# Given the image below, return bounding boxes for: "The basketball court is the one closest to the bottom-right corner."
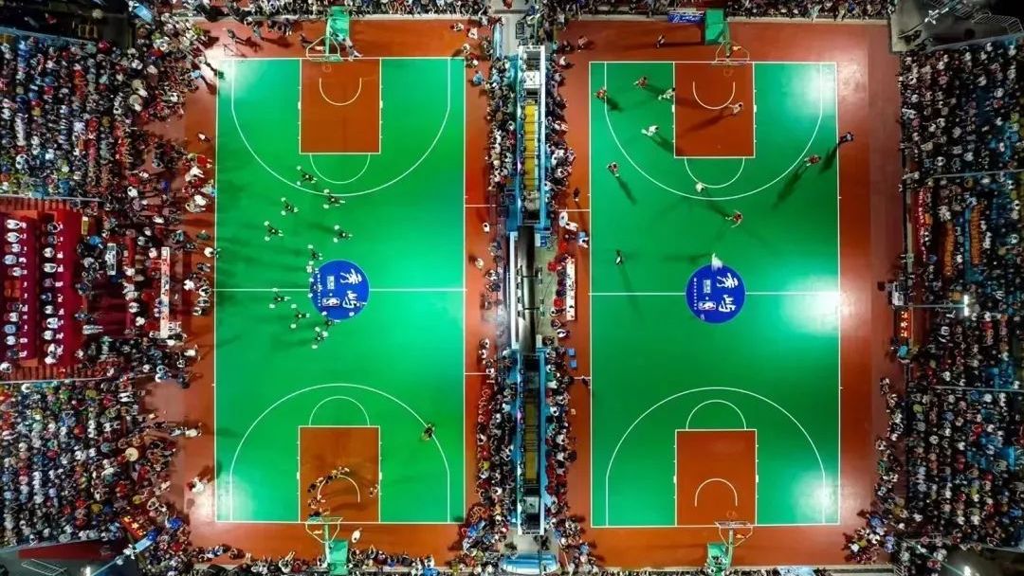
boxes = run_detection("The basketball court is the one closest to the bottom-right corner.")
[566,62,841,527]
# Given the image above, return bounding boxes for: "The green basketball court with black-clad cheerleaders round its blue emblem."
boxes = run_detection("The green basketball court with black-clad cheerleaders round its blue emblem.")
[214,58,497,522]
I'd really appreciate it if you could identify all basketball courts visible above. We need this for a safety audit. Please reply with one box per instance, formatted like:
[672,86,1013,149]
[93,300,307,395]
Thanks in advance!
[566,62,841,527]
[214,58,497,522]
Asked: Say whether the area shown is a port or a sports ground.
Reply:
sports ground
